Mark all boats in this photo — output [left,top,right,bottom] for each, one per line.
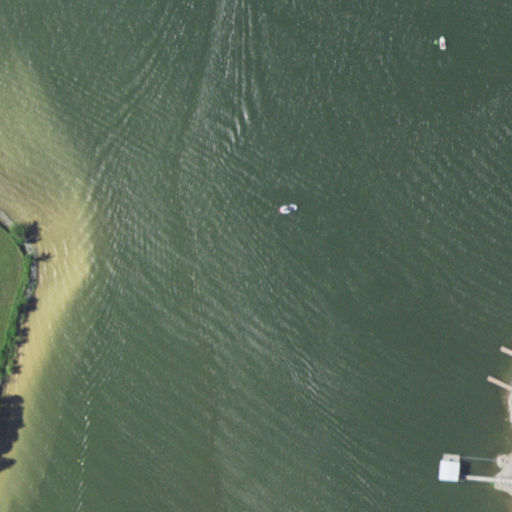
[280,204,298,213]
[440,36,446,51]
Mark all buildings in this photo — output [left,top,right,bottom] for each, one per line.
[439,454,463,484]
